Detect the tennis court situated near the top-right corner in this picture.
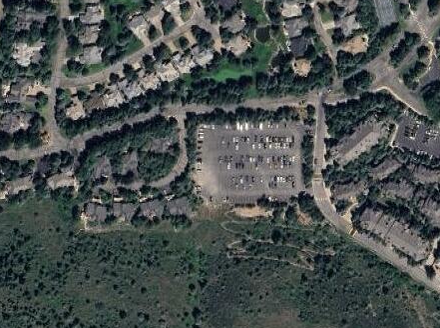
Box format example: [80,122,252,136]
[374,0,398,25]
